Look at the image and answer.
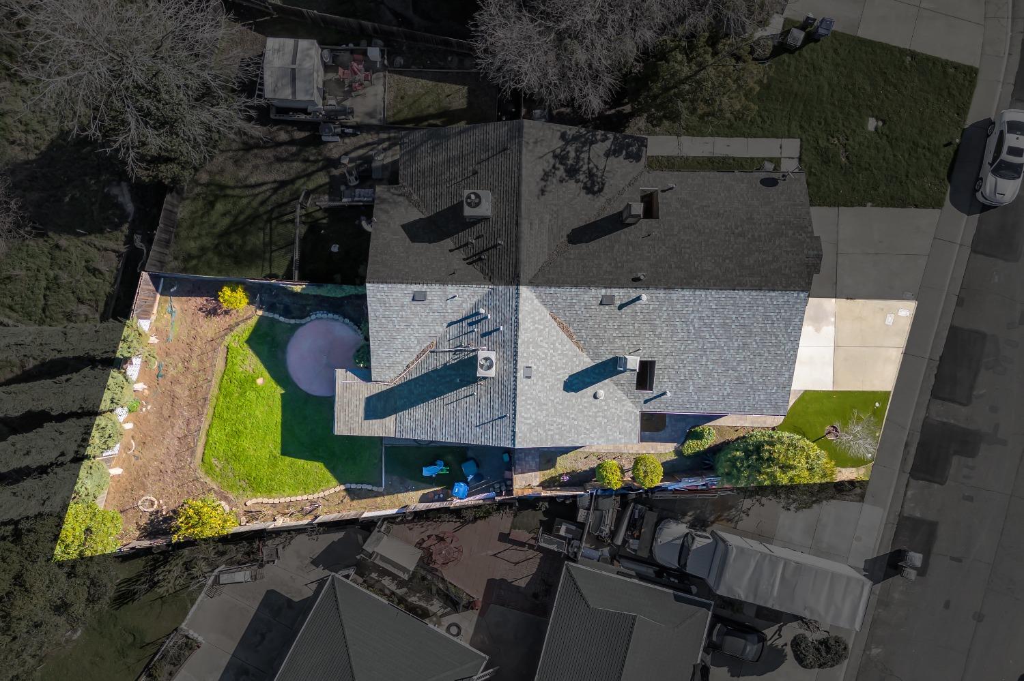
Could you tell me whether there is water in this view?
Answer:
No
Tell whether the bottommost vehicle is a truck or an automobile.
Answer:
automobile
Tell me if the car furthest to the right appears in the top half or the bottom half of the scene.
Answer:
top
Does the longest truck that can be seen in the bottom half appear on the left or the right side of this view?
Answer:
right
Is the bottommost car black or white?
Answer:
black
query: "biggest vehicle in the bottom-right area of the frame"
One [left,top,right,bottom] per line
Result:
[645,514,872,631]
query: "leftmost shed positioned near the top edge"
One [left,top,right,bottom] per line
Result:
[264,34,330,114]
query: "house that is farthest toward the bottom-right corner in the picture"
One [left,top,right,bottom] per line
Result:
[534,557,716,681]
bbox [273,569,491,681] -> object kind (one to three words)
house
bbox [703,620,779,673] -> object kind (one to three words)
car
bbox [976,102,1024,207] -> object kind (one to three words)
car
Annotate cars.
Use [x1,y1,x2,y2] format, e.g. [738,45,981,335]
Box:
[703,620,779,673]
[976,102,1024,207]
